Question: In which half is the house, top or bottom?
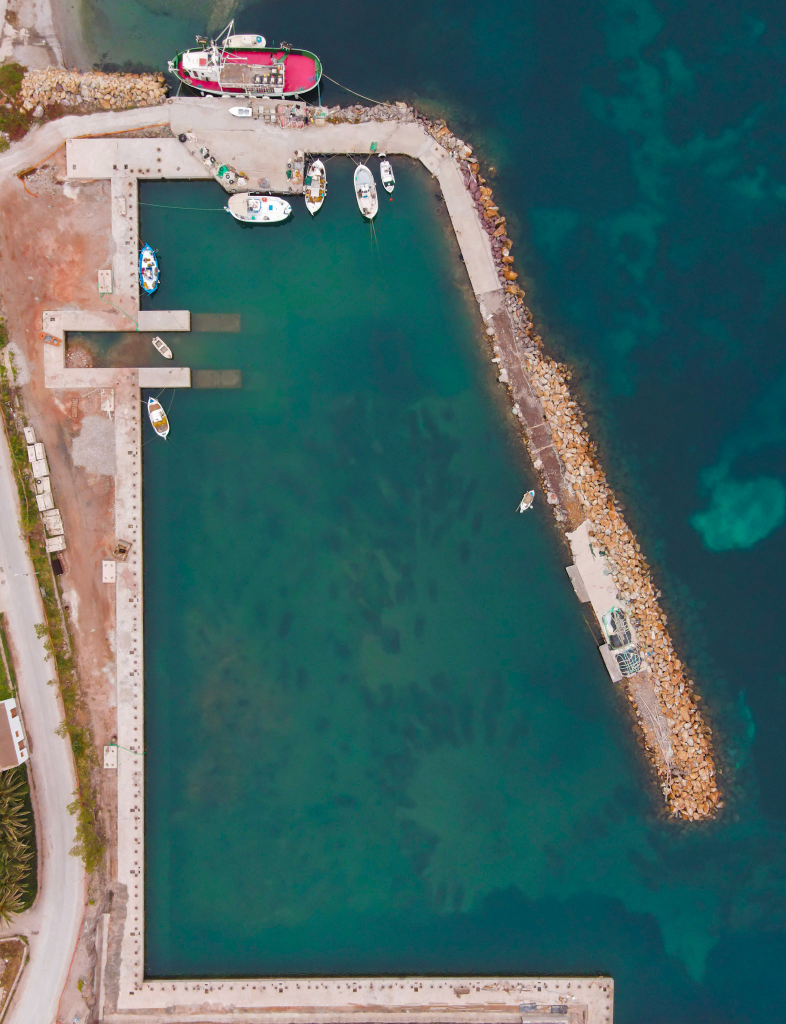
bottom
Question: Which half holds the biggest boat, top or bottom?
top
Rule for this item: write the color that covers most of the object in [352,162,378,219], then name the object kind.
white boat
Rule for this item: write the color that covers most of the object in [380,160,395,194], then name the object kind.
white boat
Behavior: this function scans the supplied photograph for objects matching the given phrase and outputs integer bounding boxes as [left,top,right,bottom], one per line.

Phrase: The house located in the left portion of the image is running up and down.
[0,697,32,772]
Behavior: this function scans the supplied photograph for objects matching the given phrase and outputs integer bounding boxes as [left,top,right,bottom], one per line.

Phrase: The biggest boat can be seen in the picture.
[168,20,323,101]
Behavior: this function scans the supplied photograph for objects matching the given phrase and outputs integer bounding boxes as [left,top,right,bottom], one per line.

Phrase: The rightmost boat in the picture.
[516,490,535,513]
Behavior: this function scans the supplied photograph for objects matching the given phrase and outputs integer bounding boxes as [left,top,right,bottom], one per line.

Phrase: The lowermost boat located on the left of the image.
[148,396,168,440]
